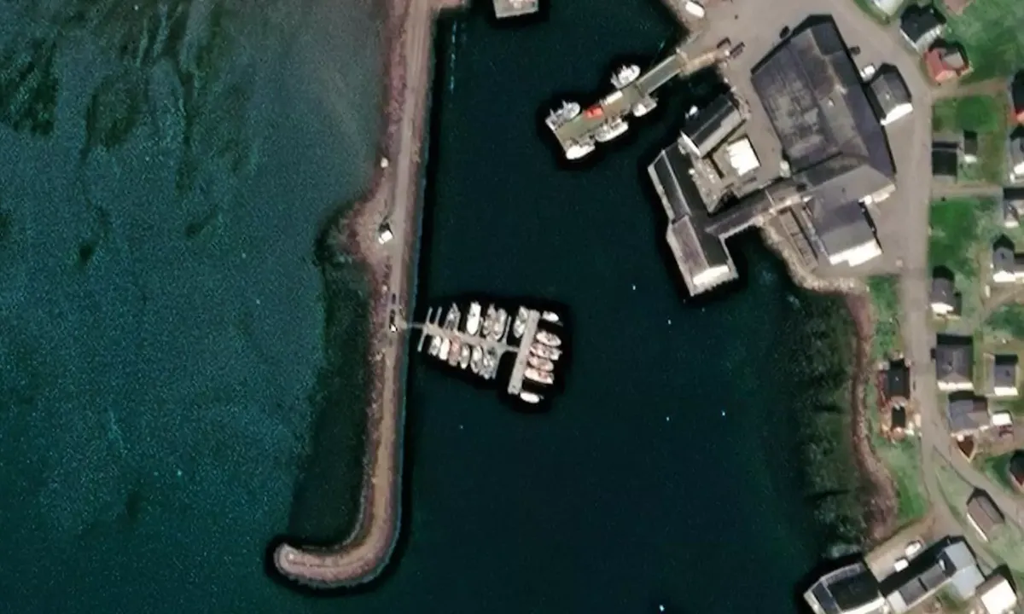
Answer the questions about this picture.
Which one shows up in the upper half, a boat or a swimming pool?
boat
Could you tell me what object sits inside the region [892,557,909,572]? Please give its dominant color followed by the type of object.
white vehicle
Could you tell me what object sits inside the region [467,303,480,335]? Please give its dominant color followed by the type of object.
white boat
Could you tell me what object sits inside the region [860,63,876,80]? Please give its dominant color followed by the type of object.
white vehicle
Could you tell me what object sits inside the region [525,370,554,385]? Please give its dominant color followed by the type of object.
white boat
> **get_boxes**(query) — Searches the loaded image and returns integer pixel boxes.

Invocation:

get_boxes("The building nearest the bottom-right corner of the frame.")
[976,575,1018,614]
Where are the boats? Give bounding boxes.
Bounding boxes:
[609,65,640,88]
[461,343,470,370]
[481,305,494,336]
[545,104,581,132]
[567,140,598,158]
[429,335,441,356]
[525,370,554,385]
[444,303,458,330]
[467,303,480,335]
[685,105,698,116]
[520,392,539,402]
[492,308,505,340]
[449,336,461,367]
[595,118,631,143]
[542,311,560,322]
[531,345,563,359]
[513,307,527,342]
[632,97,658,114]
[482,350,494,380]
[536,332,563,348]
[471,344,482,373]
[528,356,556,371]
[440,338,451,361]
